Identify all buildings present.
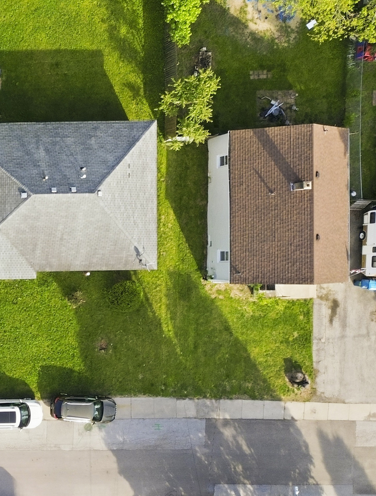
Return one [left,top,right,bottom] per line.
[0,118,158,279]
[207,122,354,298]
